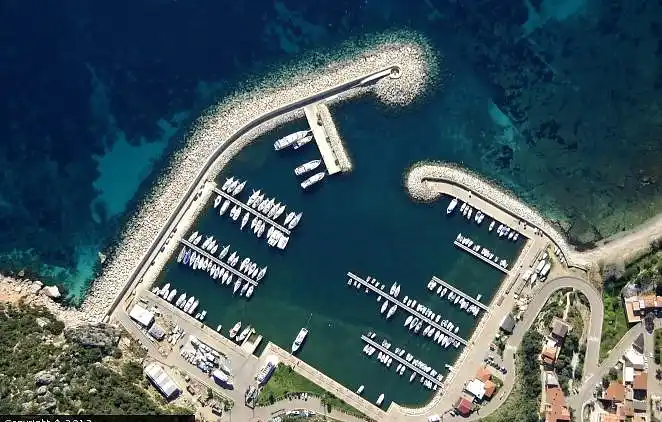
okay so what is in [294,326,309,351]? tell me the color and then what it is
white boat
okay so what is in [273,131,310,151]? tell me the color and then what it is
white boat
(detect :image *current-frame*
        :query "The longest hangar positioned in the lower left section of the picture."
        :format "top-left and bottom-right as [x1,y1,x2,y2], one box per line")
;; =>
[145,363,180,397]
